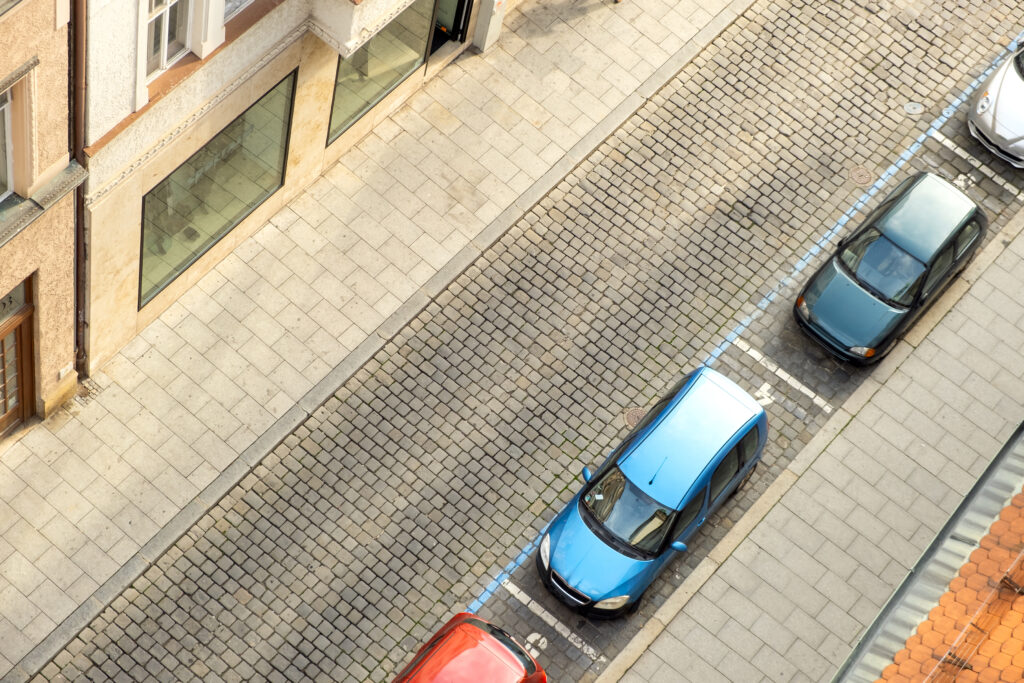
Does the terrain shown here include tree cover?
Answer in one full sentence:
No, tree cover can't be seen anywhere here.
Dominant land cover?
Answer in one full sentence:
The scene is dominated by paved ground.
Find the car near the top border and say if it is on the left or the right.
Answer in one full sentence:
The car near the top border sits on the right side.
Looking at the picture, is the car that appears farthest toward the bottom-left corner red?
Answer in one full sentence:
Yes, the car that appears farthest toward the bottom-left corner is red.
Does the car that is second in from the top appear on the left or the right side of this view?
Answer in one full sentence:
The car that is second in from the top is on the right side of the image.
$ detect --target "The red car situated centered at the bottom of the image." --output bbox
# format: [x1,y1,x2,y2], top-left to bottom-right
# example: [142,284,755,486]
[394,611,556,683]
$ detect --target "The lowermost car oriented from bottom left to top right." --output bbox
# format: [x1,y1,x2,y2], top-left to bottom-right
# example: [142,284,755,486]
[535,367,778,620]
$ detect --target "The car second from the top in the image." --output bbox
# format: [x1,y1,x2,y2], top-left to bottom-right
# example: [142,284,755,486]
[790,175,984,369]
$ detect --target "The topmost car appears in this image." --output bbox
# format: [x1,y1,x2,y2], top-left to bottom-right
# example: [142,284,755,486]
[959,32,1024,174]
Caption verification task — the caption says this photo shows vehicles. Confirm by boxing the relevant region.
[959,32,1024,174]
[790,175,984,369]
[394,611,556,683]
[535,367,778,620]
